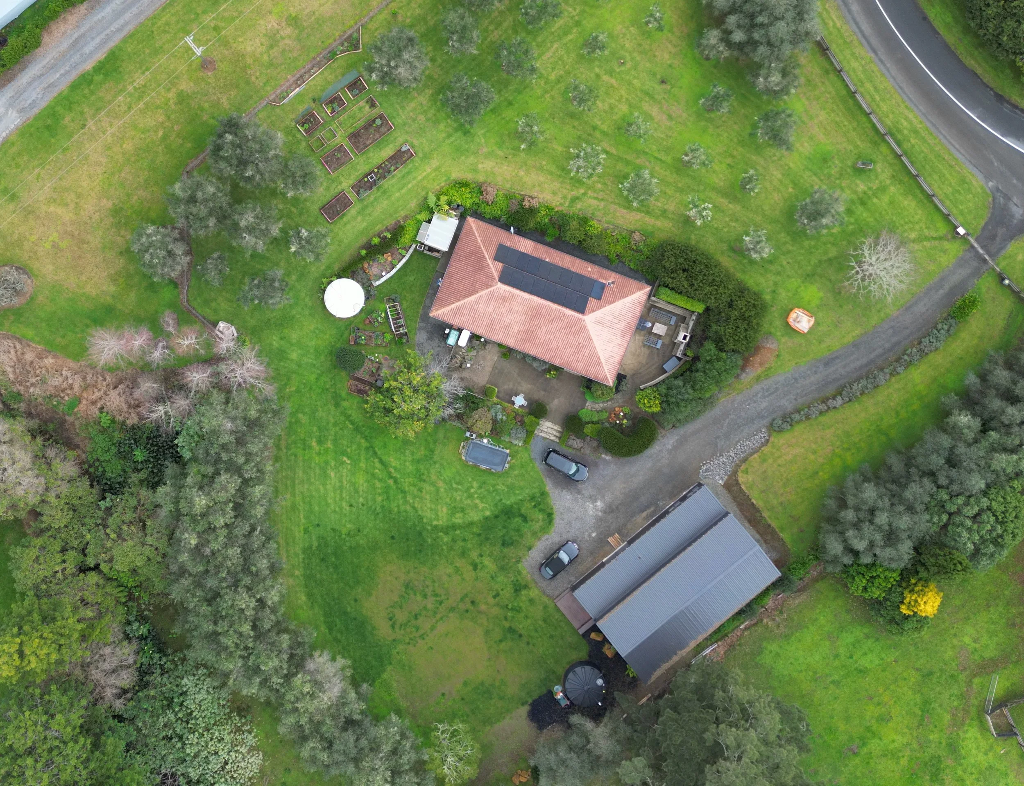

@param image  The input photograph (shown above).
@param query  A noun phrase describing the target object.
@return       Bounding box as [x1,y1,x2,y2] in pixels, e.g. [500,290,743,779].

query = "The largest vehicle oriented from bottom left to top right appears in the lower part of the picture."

[539,540,580,580]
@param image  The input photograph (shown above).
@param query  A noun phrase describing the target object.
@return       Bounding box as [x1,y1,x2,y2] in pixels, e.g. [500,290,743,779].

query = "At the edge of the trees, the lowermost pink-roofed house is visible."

[429,215,652,387]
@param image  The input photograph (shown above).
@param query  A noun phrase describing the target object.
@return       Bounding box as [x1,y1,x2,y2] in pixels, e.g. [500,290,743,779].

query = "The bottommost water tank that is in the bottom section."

[564,661,608,707]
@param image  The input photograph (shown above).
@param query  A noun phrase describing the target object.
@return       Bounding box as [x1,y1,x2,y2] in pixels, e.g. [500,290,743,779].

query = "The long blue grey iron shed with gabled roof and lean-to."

[571,482,782,685]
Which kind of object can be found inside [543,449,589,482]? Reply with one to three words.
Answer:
car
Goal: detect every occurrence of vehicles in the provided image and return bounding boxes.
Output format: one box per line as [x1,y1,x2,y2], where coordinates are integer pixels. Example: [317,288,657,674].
[539,540,580,580]
[543,449,589,482]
